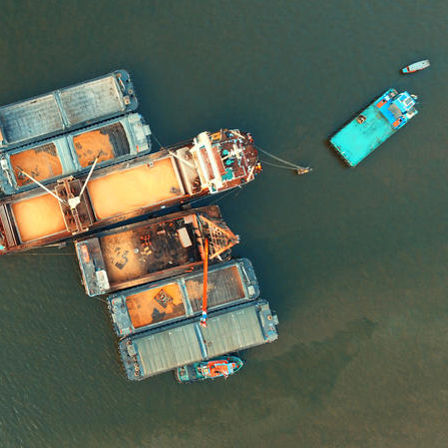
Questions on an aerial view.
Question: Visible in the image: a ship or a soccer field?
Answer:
ship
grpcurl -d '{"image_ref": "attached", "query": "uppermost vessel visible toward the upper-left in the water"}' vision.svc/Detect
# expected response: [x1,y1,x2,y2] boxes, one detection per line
[0,70,138,152]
